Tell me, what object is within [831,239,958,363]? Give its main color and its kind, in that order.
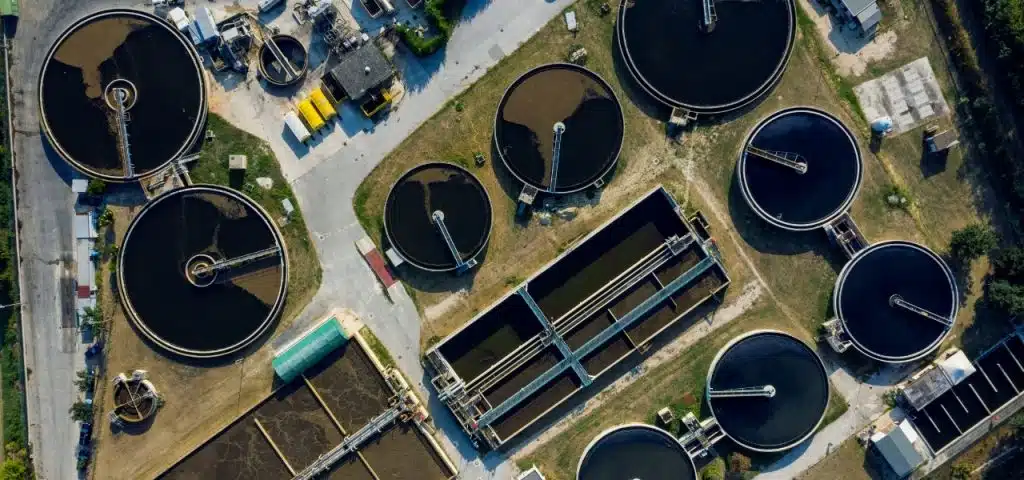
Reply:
black storage tank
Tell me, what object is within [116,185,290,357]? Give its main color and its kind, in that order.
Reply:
black storage tank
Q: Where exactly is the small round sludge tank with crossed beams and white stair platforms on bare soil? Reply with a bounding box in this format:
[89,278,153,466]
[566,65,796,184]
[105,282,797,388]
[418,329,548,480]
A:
[111,373,163,423]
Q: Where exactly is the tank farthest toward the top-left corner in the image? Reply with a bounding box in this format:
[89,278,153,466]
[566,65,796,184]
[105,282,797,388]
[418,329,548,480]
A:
[39,11,211,180]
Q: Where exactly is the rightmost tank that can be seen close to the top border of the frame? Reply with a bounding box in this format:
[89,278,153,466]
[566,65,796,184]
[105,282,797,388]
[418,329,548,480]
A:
[616,0,797,114]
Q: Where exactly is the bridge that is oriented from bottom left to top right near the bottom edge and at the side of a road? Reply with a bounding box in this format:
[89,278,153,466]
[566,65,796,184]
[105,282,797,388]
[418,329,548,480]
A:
[288,395,409,480]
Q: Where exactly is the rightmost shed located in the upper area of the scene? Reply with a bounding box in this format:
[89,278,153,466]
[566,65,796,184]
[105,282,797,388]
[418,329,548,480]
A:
[926,129,960,153]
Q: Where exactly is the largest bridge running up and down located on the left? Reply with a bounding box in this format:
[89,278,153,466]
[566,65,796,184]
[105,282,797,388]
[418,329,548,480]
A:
[115,87,131,177]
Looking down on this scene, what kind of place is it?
industrial area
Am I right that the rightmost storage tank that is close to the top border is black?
Yes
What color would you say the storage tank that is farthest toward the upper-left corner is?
black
